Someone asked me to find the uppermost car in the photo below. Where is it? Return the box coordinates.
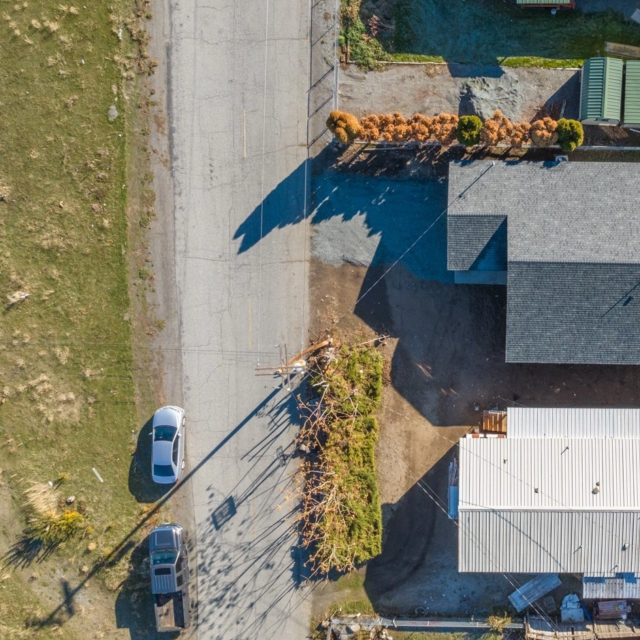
[146,405,186,485]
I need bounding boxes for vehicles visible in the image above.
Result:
[144,521,190,631]
[146,405,186,485]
